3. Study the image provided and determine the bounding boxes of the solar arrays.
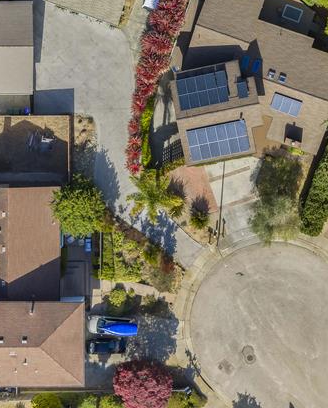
[187,119,249,160]
[176,71,229,110]
[238,81,249,98]
[271,93,302,117]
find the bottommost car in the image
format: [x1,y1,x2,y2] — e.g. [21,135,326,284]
[87,338,129,360]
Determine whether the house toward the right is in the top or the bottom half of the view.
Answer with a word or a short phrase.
top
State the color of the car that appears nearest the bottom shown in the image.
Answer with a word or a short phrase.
black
